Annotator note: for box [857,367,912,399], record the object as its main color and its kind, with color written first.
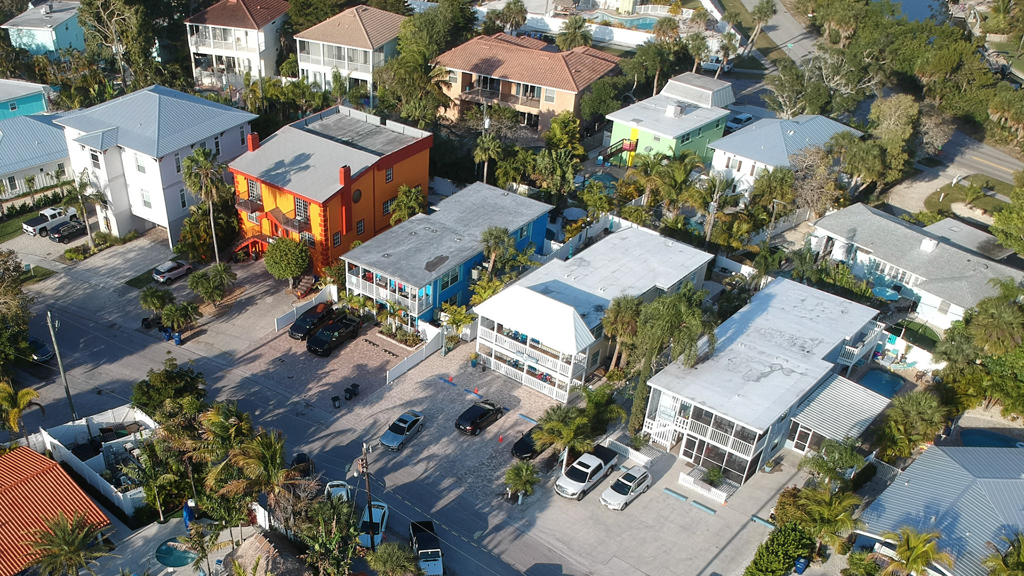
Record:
blue swimming pool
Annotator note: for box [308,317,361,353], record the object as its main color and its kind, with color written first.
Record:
black truck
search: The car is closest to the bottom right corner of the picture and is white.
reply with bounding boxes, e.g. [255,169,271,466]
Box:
[606,464,653,507]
